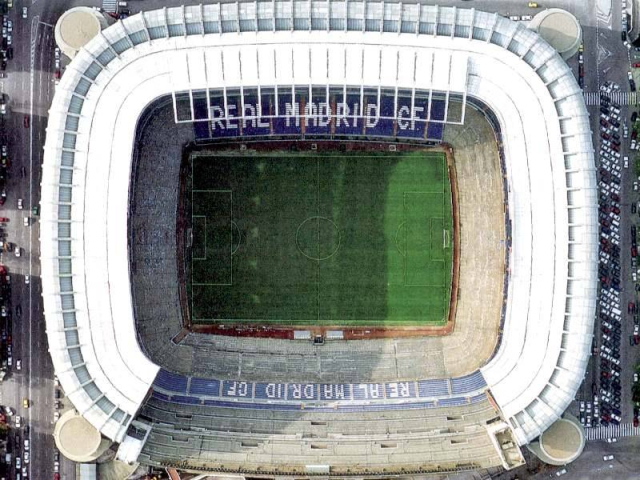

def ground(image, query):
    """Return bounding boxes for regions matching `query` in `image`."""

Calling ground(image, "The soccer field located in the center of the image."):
[176,139,459,339]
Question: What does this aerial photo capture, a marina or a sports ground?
sports ground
